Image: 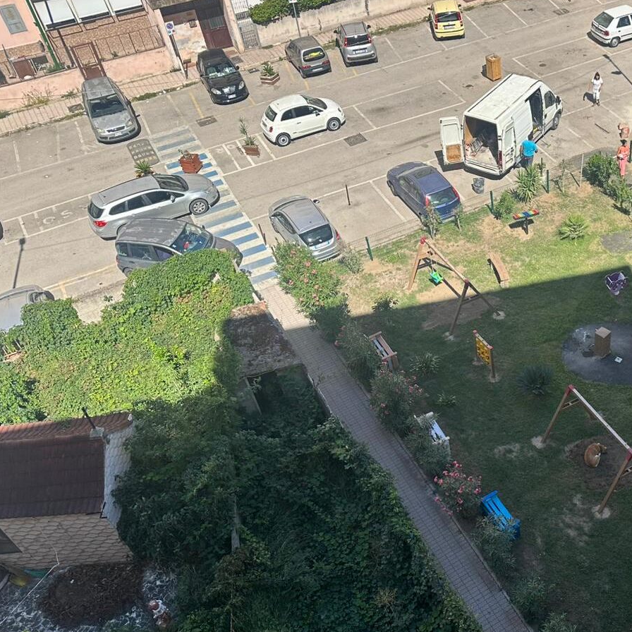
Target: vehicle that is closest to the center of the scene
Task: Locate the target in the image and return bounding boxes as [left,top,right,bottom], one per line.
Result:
[266,190,349,263]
